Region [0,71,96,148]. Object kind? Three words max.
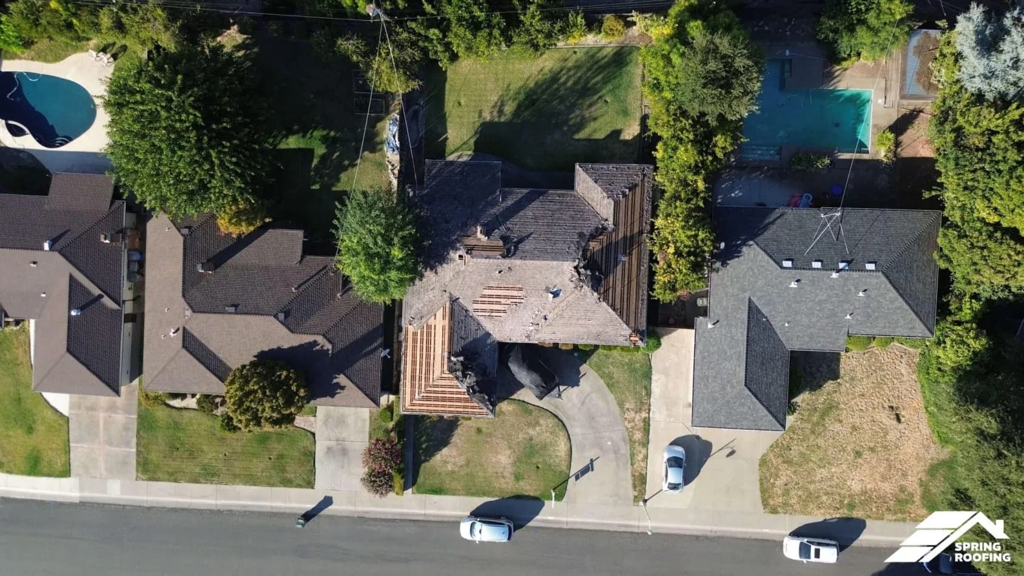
swimming pool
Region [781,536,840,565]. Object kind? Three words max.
car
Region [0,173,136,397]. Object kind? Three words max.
house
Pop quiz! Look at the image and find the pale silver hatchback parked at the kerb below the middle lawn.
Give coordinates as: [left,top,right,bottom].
[459,515,513,544]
